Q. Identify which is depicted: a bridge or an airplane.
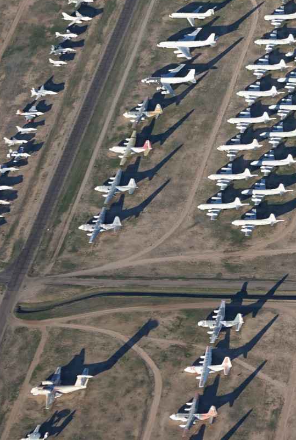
airplane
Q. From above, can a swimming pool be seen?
No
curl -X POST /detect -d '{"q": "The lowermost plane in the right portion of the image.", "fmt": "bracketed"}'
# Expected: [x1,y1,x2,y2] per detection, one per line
[169,392,219,435]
